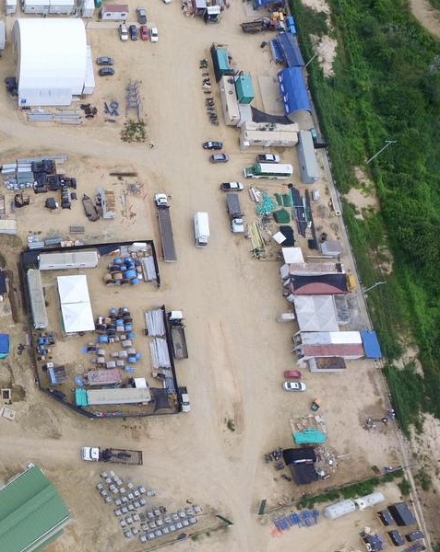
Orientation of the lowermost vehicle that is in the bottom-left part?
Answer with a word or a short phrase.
from side to side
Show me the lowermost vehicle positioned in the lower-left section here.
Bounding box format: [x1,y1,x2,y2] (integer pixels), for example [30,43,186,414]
[82,445,143,465]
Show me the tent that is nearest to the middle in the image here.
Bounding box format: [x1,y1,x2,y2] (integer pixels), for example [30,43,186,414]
[279,247,304,268]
